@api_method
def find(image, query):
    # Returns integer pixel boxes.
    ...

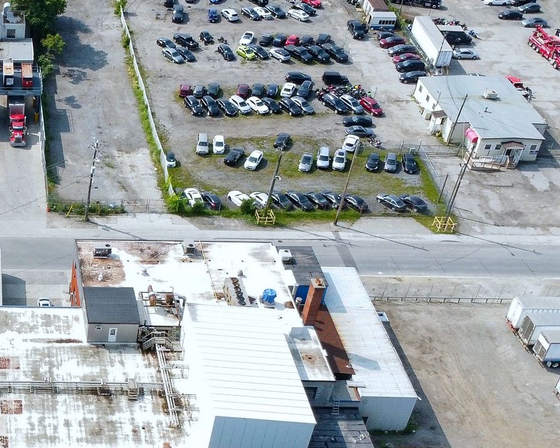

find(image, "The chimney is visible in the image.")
[296,277,323,327]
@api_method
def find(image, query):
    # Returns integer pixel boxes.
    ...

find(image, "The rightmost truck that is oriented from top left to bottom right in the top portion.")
[524,23,560,69]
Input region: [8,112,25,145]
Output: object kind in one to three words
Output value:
vehicle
